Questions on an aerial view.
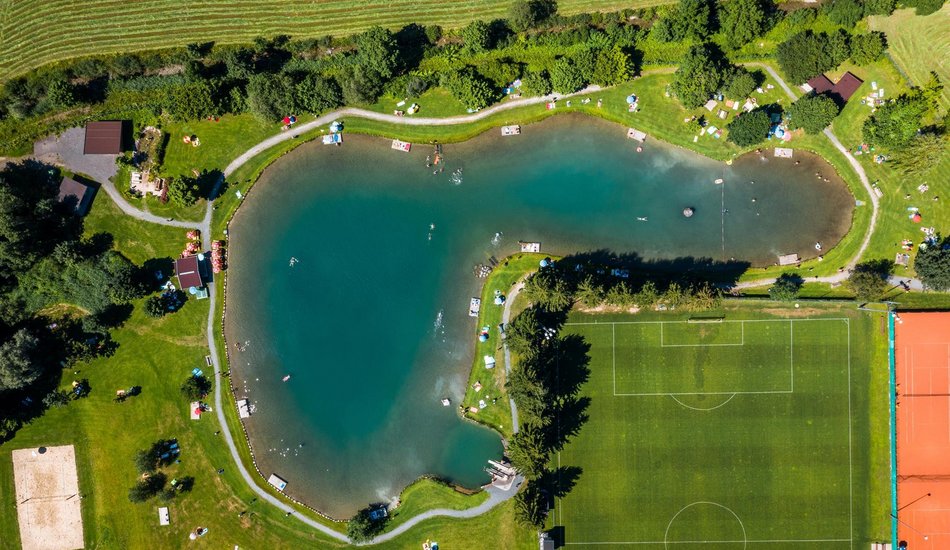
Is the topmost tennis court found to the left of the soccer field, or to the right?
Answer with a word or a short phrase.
to its right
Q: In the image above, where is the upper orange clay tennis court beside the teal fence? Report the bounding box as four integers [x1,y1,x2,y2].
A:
[893,311,950,477]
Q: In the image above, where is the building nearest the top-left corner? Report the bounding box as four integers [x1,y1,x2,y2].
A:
[84,120,126,155]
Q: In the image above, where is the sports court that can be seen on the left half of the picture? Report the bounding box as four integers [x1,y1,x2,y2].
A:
[12,445,85,550]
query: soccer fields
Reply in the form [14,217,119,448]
[553,308,873,550]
